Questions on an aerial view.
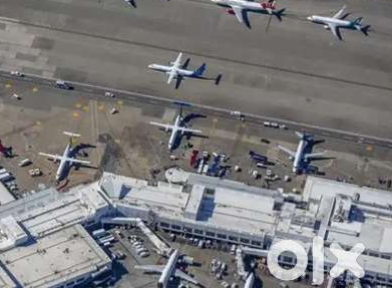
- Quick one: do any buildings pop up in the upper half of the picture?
No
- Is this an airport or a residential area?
airport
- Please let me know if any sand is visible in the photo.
No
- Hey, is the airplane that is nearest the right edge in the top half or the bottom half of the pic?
top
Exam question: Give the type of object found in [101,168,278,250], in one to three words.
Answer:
building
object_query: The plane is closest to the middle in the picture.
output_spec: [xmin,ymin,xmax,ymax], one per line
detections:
[150,102,202,148]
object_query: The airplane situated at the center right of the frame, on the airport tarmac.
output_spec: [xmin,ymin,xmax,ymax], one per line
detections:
[276,127,326,175]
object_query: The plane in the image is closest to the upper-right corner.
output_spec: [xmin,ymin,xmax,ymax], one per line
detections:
[307,6,364,35]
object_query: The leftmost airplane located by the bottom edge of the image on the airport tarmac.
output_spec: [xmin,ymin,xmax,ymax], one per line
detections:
[132,251,197,288]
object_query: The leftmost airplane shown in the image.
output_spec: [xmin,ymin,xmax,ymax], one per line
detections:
[39,131,91,180]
